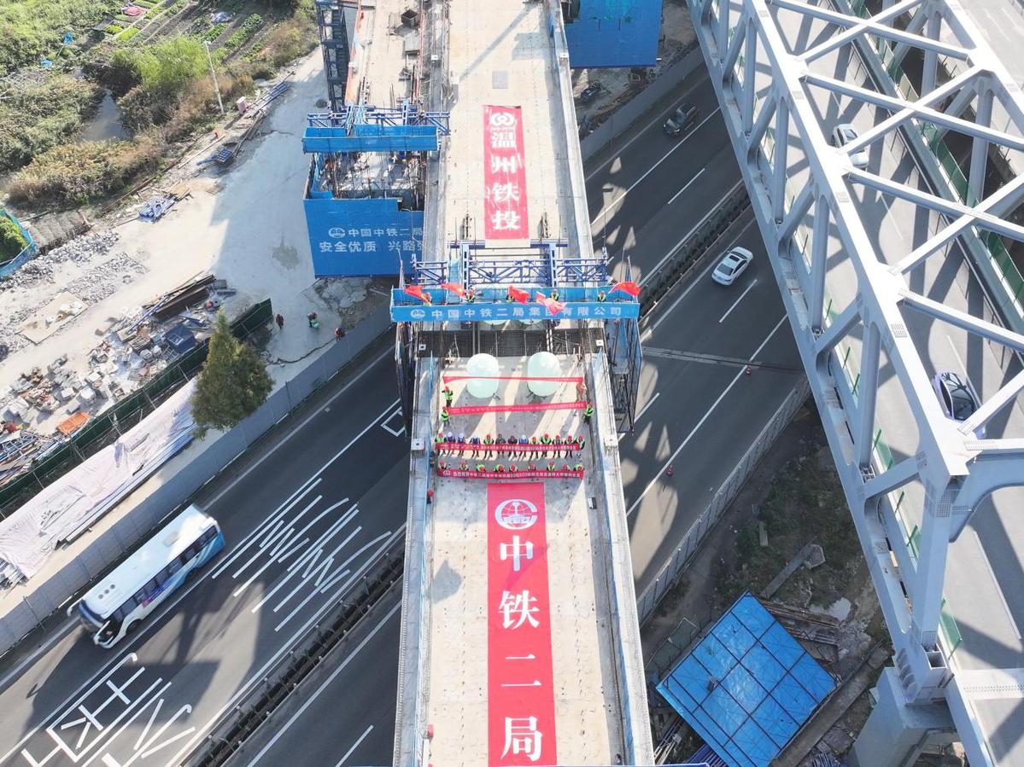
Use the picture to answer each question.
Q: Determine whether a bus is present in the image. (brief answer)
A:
Yes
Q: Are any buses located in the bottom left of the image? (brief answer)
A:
Yes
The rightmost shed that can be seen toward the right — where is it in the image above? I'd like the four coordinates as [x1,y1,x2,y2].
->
[652,591,837,767]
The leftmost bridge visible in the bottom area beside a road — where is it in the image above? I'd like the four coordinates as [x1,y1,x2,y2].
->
[395,343,649,767]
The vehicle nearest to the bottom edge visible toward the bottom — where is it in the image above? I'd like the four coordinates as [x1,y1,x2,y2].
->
[52,487,231,647]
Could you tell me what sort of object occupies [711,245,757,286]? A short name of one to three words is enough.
car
